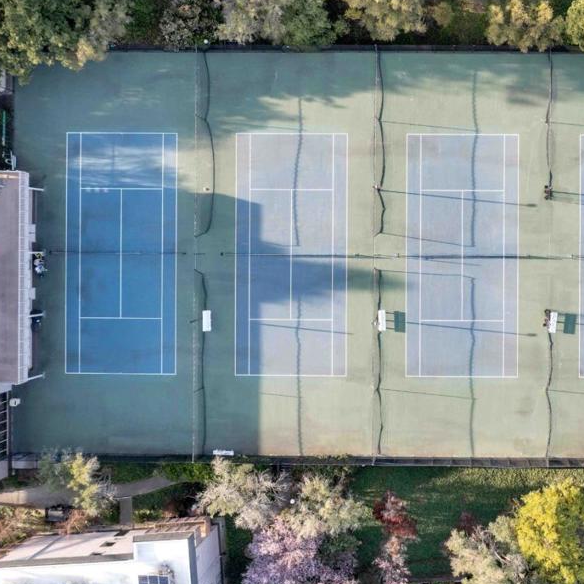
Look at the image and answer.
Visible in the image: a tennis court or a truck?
tennis court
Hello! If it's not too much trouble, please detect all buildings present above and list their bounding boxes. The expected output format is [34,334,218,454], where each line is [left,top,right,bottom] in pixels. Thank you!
[0,170,46,490]
[0,520,228,584]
